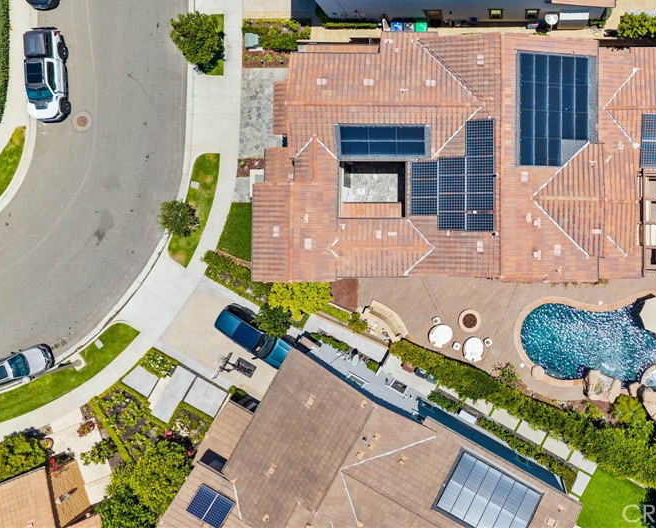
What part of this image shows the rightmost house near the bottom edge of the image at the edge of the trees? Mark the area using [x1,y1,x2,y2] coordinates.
[160,342,581,528]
